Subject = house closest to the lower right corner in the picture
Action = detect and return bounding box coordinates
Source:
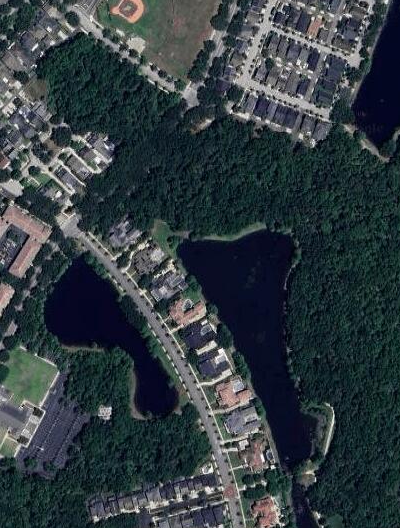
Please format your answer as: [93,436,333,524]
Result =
[249,495,278,527]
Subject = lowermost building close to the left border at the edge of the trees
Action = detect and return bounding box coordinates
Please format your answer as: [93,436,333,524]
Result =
[0,386,36,441]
